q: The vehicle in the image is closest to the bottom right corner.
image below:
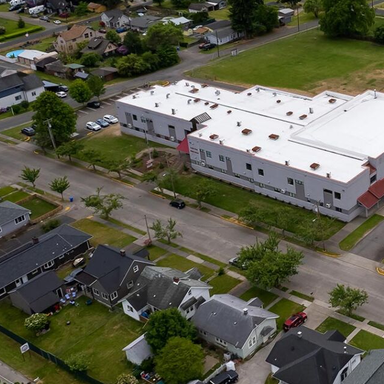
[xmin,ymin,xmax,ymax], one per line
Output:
[282,314,310,329]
